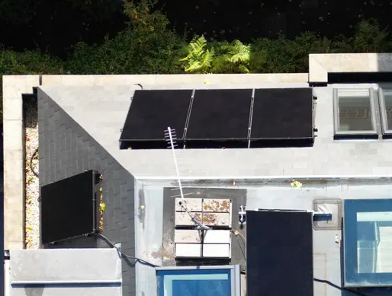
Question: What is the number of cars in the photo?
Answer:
zero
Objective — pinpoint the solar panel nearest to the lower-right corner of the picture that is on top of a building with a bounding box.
[247,210,312,296]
